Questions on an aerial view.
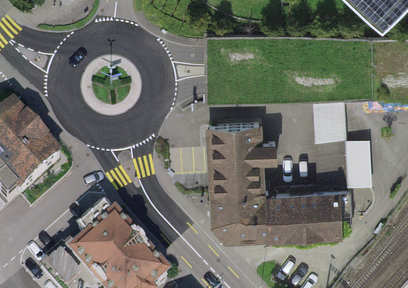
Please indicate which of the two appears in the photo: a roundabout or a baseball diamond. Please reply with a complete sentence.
Visible in the photo is a roundabout.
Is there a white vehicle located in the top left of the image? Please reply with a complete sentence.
No, the scene shows no white vehicle in the top left of the image.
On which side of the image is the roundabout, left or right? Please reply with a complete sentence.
The roundabout sits on the left side.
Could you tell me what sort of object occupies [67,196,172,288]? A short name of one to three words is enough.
house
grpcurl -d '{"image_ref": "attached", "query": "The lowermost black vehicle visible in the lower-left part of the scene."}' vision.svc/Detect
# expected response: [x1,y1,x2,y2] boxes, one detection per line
[25,256,44,279]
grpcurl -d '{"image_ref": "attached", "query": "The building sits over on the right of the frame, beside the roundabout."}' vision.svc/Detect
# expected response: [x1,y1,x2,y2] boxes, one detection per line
[208,119,353,246]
